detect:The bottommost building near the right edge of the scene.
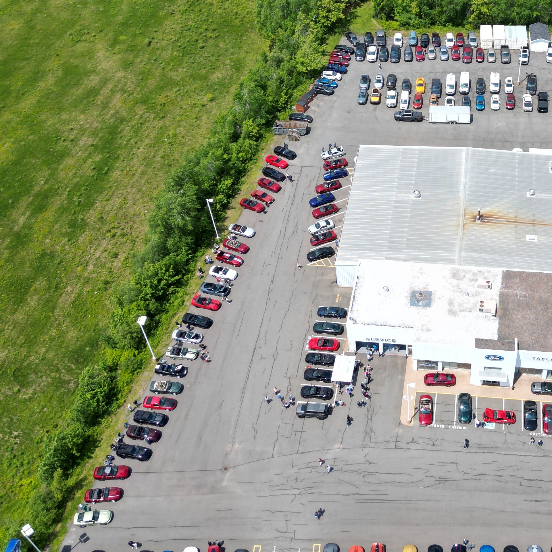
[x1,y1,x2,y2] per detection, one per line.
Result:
[333,144,552,394]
